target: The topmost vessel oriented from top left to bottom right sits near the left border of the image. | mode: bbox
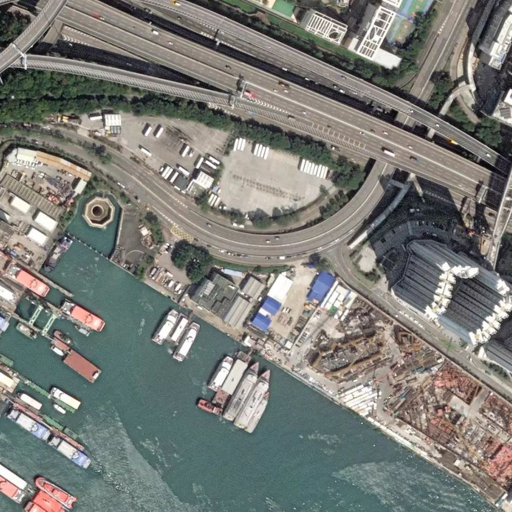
[6,266,50,298]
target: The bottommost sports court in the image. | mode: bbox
[386,16,416,45]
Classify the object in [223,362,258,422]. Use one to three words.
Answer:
vessel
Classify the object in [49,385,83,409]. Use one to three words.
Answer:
ship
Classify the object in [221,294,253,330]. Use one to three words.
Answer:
shed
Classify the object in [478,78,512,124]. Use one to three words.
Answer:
building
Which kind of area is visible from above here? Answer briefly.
port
